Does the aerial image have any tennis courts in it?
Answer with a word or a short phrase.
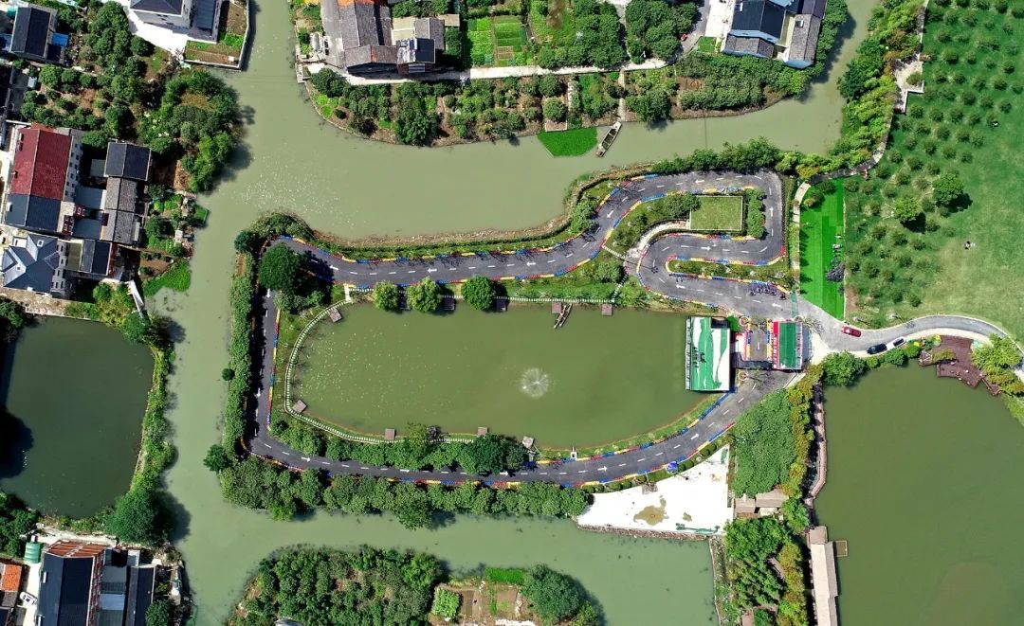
No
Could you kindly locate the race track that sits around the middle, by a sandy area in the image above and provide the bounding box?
[239,161,843,492]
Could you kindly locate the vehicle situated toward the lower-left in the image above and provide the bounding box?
[19,591,38,606]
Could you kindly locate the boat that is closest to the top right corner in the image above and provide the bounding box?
[598,121,624,157]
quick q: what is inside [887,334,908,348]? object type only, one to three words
car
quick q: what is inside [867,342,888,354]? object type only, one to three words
vehicle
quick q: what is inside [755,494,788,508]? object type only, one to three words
shed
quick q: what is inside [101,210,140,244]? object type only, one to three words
house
